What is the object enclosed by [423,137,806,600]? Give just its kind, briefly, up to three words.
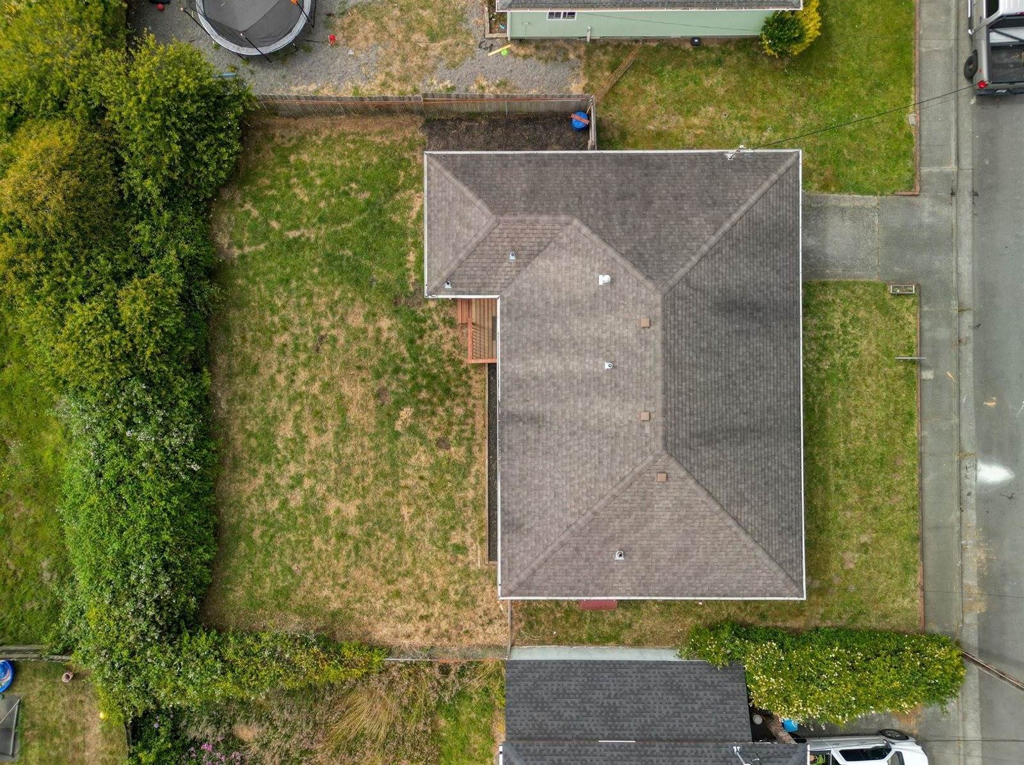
house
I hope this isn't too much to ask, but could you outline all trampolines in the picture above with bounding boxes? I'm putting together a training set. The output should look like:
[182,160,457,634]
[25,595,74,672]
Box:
[179,0,319,66]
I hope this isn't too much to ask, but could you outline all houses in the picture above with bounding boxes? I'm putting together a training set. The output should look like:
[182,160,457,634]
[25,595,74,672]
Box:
[423,137,806,600]
[494,0,804,40]
[497,649,810,765]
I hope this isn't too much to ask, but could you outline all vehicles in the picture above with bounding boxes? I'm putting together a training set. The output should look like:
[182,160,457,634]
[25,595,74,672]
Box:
[804,728,924,765]
[955,0,1024,100]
